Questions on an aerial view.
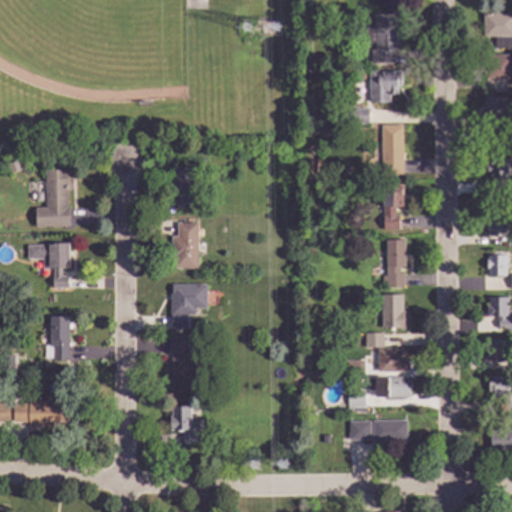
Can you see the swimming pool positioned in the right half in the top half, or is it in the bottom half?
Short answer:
bottom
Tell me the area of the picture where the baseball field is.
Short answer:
top left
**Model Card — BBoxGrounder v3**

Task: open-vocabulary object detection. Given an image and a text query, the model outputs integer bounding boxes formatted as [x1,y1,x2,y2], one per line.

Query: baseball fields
[0,0,188,101]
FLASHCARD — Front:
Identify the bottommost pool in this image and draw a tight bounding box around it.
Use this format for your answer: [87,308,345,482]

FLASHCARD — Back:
[323,384,344,407]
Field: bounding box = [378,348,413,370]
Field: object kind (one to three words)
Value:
house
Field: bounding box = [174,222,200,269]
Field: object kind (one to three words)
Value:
house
